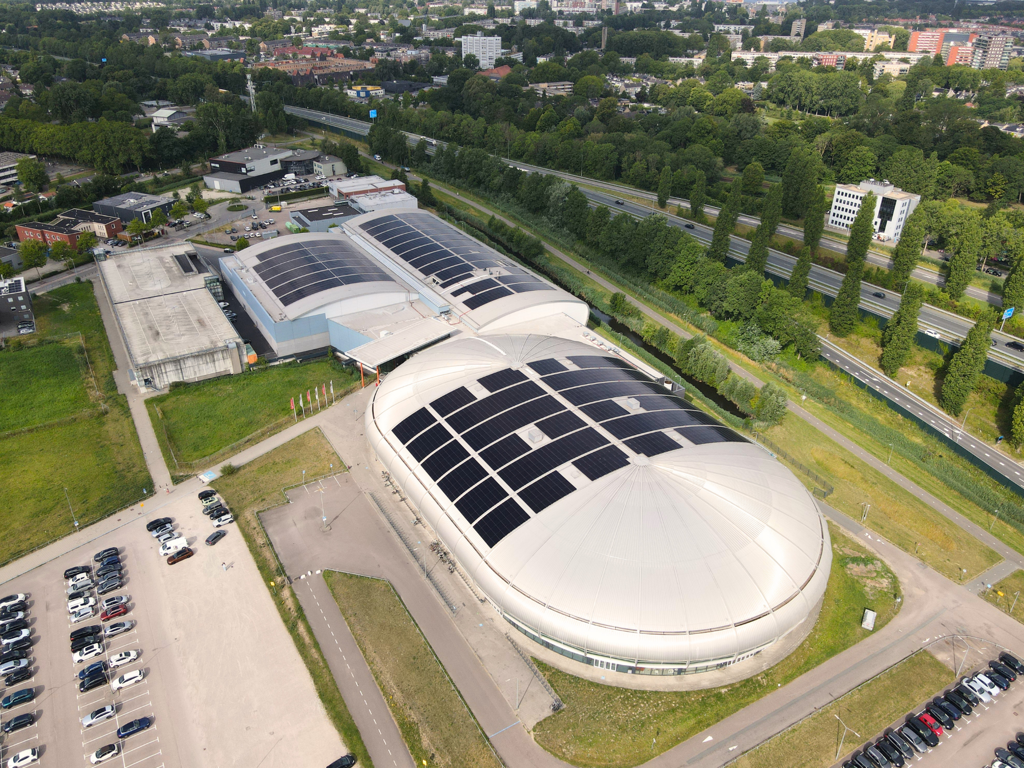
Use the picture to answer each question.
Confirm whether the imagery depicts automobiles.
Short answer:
Yes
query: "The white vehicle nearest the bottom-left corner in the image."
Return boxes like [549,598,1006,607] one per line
[6,748,38,768]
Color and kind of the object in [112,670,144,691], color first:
white car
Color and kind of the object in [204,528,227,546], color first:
gray car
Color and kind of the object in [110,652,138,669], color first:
white car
